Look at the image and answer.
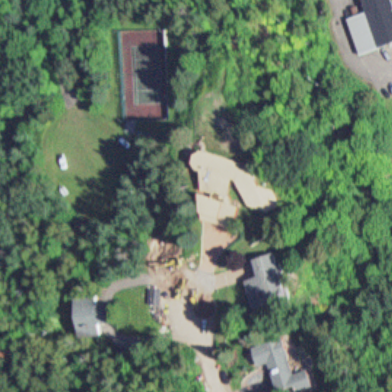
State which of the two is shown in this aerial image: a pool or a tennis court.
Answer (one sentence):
I can see a tennis court in this picture.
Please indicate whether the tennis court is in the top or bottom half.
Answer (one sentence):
The tennis court sits in the top half of the picture.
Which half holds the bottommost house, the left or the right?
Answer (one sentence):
The bottommost house sits on the right side.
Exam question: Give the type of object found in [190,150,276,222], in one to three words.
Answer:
house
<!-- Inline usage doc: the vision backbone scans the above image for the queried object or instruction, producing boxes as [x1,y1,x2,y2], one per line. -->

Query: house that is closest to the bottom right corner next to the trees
[250,340,310,392]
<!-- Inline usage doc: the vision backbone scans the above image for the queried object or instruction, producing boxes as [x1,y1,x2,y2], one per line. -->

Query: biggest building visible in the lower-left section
[72,294,102,337]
